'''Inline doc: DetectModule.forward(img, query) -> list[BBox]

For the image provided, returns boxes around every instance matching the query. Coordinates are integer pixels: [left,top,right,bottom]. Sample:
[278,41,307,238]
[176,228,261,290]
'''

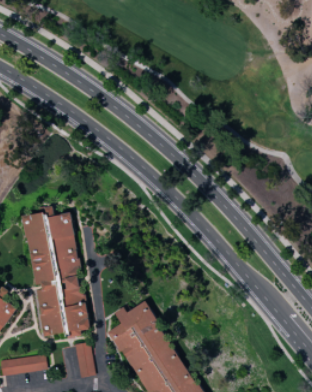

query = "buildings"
[1,356,48,376]
[110,302,201,392]
[22,206,90,338]
[75,343,96,378]
[0,287,15,337]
